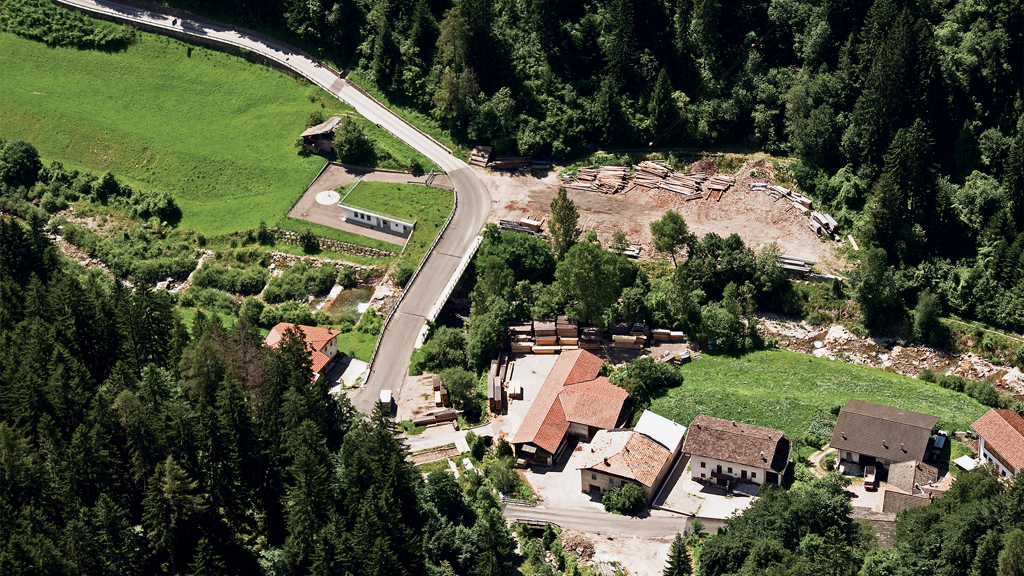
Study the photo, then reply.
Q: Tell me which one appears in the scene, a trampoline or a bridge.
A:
bridge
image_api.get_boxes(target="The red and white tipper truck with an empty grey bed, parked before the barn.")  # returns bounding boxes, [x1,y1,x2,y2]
[862,466,878,490]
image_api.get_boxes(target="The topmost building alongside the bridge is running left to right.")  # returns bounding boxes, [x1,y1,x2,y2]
[339,178,435,233]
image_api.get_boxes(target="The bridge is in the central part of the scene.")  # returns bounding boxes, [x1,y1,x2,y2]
[402,235,483,349]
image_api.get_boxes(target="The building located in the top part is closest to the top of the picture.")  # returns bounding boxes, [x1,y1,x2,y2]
[300,117,343,160]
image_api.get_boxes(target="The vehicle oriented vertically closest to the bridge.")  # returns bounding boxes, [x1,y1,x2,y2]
[380,386,393,415]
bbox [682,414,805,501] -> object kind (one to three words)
house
